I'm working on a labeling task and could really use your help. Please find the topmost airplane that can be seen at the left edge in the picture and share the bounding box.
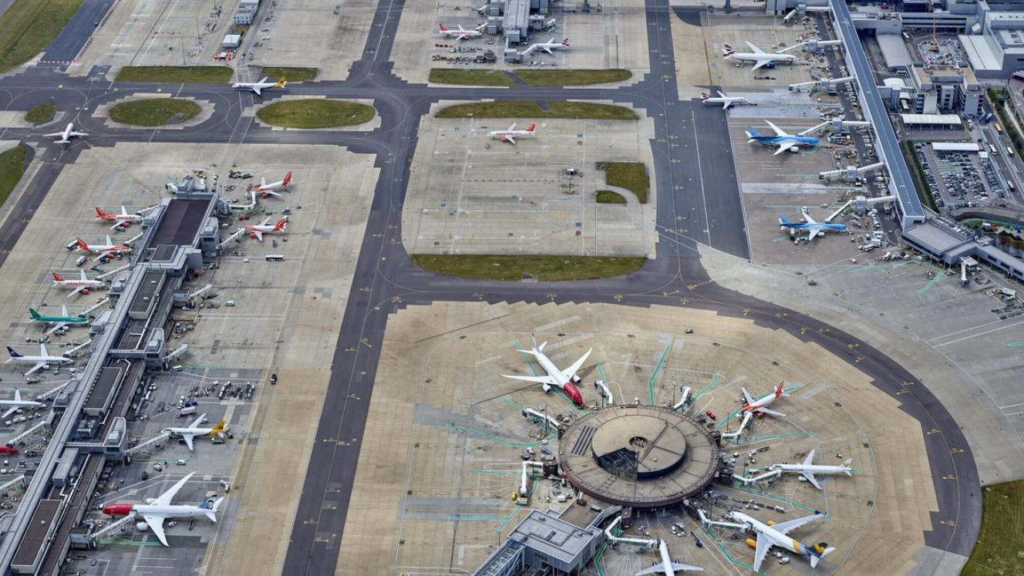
[44,123,89,142]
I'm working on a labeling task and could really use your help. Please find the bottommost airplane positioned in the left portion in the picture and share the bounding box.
[102,469,223,543]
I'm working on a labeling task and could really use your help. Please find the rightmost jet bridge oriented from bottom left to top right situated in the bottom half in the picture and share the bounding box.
[721,410,753,444]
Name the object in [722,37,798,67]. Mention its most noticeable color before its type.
white airplane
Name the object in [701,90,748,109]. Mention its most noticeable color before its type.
white airplane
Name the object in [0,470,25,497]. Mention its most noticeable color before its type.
white jet bridge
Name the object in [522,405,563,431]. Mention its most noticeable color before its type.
white jet bridge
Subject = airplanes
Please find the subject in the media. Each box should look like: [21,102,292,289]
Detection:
[0,441,20,456]
[245,169,295,196]
[779,208,848,240]
[102,469,223,543]
[745,116,820,152]
[28,302,88,333]
[247,213,291,238]
[232,75,286,93]
[7,338,71,374]
[172,412,228,450]
[769,448,852,488]
[44,123,89,142]
[0,380,46,420]
[528,35,567,55]
[637,548,706,576]
[730,499,843,569]
[701,90,748,109]
[438,23,482,41]
[722,37,798,67]
[93,204,142,228]
[487,120,536,141]
[739,375,791,415]
[76,231,131,261]
[50,267,103,295]
[507,331,594,403]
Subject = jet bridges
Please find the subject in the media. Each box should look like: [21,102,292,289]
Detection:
[542,18,558,33]
[671,384,690,413]
[160,341,189,367]
[721,410,753,444]
[696,505,753,535]
[823,193,895,224]
[34,376,73,401]
[61,335,94,358]
[123,230,142,248]
[732,468,784,489]
[603,513,662,551]
[0,470,25,497]
[189,282,216,304]
[163,183,180,196]
[93,261,130,282]
[216,227,249,251]
[816,159,883,182]
[593,379,616,408]
[960,258,968,287]
[229,189,257,213]
[91,510,140,543]
[786,73,853,92]
[77,295,111,317]
[796,118,868,136]
[522,405,563,431]
[121,429,175,460]
[520,458,546,496]
[3,416,46,447]
[774,39,840,53]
